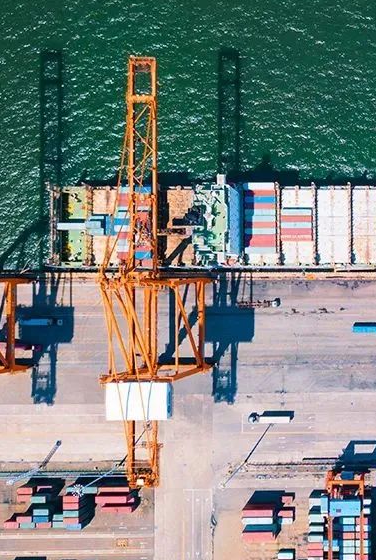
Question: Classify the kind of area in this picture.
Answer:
port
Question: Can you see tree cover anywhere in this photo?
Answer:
No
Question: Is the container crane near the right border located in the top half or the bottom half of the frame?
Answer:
bottom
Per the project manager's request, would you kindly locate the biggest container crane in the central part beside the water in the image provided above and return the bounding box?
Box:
[94,56,221,488]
